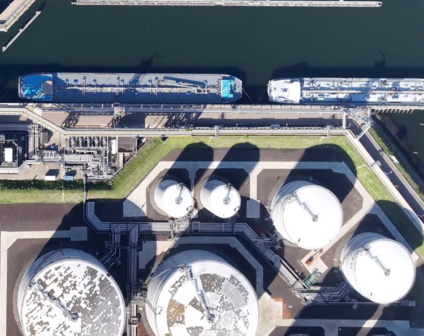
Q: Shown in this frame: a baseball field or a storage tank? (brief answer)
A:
storage tank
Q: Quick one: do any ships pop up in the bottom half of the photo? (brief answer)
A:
No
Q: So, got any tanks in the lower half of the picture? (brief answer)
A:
Yes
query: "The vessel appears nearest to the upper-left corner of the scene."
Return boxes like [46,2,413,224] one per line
[18,72,243,103]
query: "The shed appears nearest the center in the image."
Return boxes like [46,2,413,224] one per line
[116,136,137,153]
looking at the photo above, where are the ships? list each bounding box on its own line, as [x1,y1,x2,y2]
[266,77,424,105]
[18,72,243,103]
